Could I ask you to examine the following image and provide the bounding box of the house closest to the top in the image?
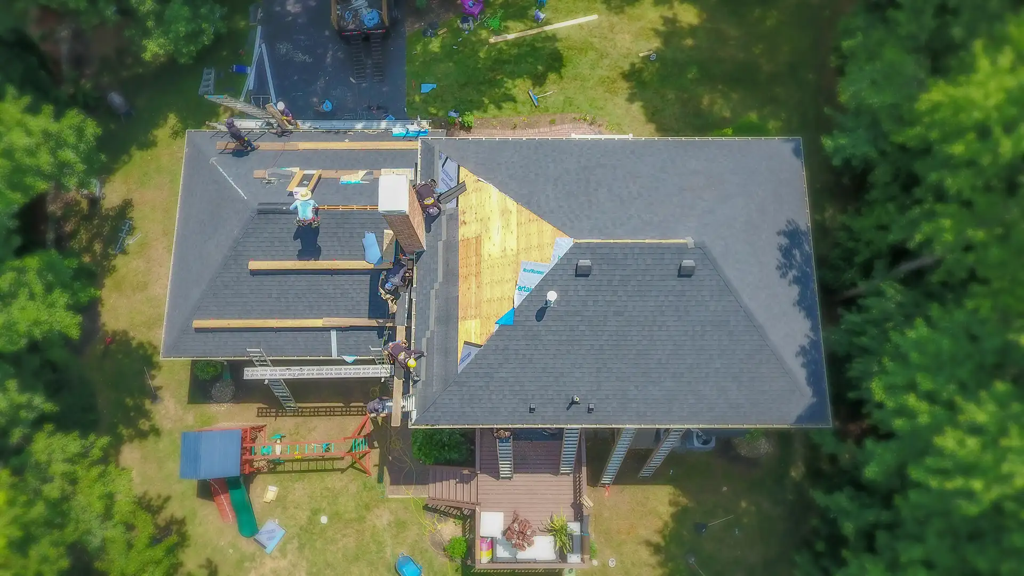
[160,130,832,438]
